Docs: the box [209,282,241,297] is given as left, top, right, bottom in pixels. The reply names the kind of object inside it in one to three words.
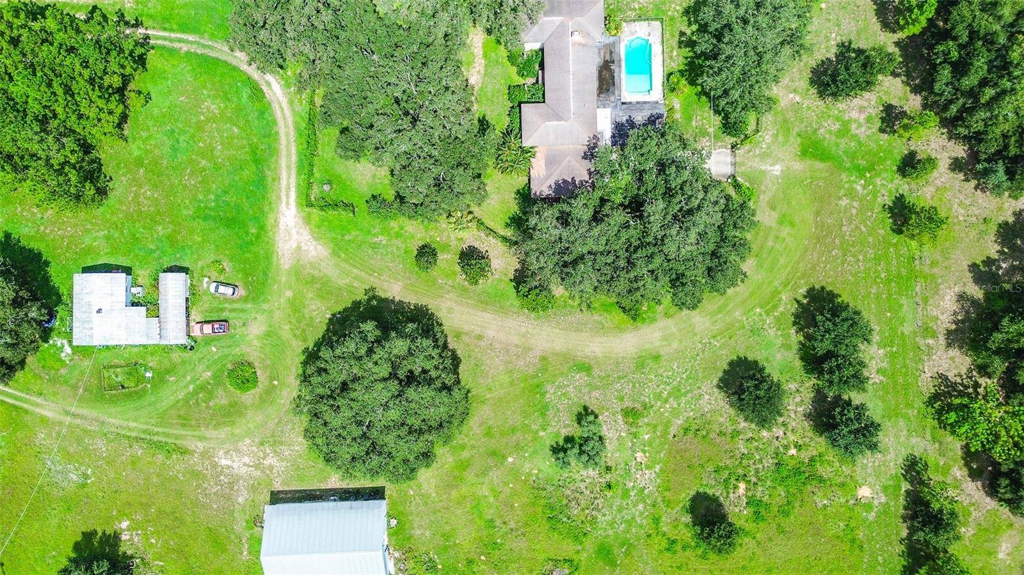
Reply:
car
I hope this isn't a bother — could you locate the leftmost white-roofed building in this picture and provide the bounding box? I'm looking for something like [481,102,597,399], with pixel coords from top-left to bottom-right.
[74,273,154,346]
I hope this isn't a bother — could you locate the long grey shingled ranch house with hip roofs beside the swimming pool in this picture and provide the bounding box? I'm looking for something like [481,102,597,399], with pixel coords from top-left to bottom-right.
[521,0,611,197]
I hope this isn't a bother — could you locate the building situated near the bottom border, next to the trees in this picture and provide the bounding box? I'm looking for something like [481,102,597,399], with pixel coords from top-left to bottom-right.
[260,495,393,575]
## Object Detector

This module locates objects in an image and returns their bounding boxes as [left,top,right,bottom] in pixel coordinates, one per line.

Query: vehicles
[209,282,241,297]
[192,321,230,336]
